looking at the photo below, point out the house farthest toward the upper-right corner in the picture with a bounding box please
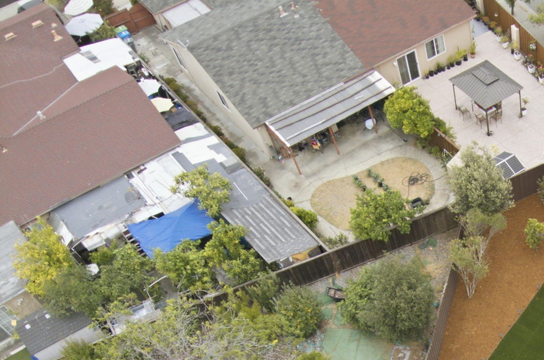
[142,0,476,175]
